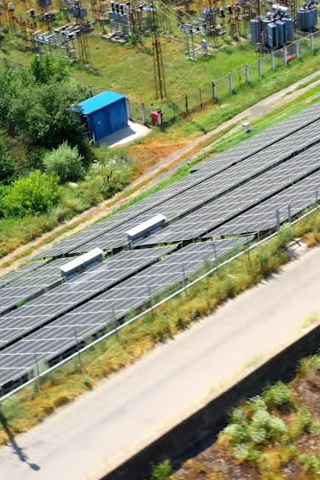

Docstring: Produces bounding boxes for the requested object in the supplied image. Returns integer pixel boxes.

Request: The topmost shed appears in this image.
[73,92,129,142]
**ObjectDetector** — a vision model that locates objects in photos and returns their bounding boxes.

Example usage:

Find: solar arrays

[196,166,320,242]
[0,246,172,346]
[0,237,247,387]
[129,139,320,249]
[0,260,46,286]
[67,115,320,255]
[0,257,73,311]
